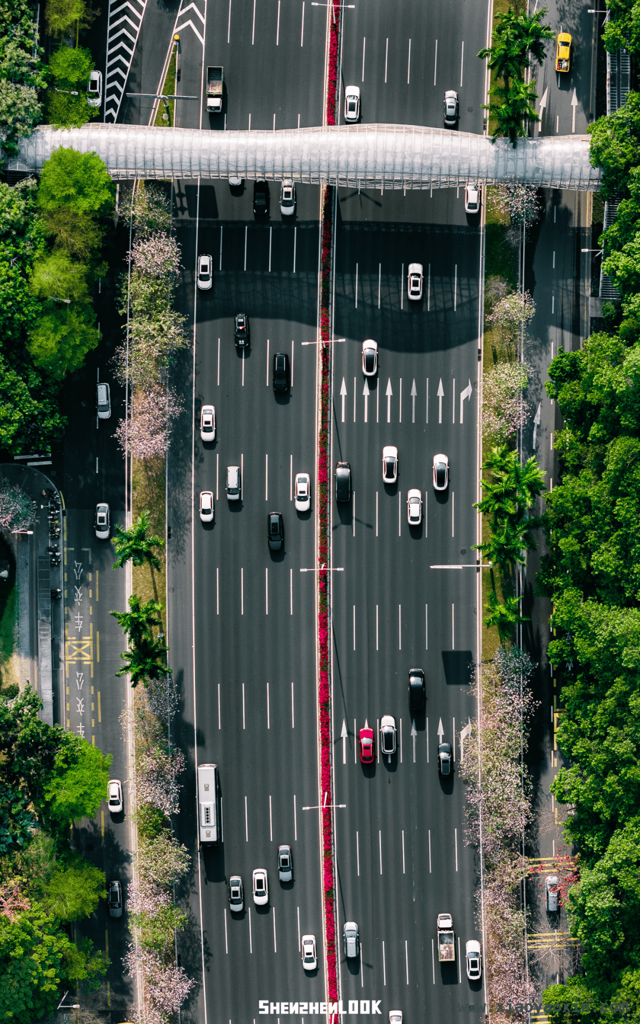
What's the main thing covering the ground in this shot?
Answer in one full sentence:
The bulk of the photo consists of paved ground.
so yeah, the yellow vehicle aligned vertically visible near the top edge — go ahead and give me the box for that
[555,33,573,74]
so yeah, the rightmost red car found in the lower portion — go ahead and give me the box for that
[359,727,375,764]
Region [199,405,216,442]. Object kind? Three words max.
car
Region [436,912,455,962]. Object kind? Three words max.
vehicle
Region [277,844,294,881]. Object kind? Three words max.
car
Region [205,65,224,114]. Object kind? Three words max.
vehicle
